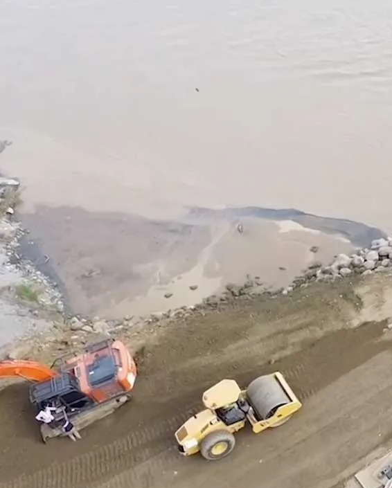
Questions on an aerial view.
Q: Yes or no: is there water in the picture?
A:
Yes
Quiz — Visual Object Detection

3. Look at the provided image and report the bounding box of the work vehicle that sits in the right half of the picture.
[173,365,302,462]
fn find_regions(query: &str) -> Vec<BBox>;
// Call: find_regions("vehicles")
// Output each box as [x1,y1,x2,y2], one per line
[173,365,302,462]
[0,335,139,440]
